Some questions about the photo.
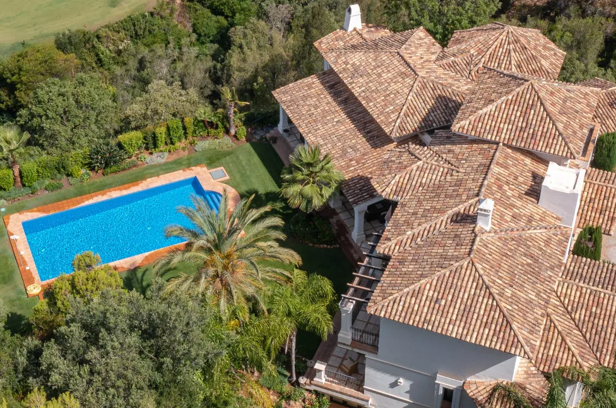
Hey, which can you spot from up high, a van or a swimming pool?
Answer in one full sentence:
Of the two, only a swimming pool appears.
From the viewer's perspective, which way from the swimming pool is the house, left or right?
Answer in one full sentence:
The house can be seen on the right of the swimming pool.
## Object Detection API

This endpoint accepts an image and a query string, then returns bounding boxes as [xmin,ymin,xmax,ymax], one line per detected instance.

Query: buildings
[267,2,616,408]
